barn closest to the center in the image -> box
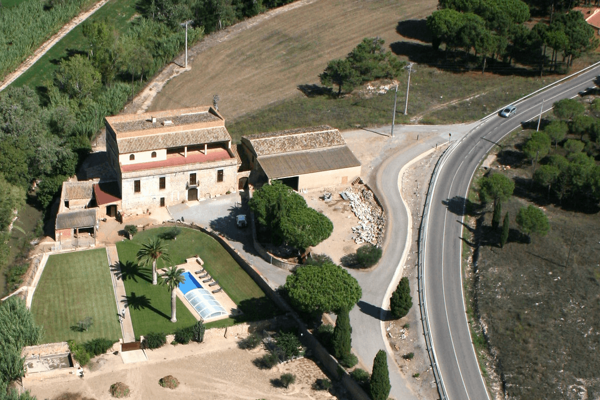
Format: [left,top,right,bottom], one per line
[237,124,363,187]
